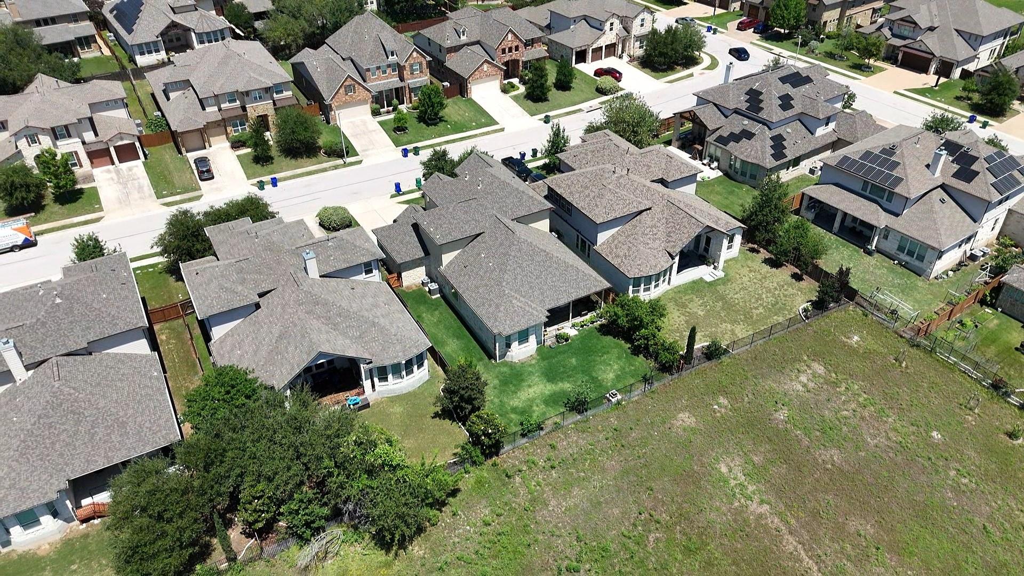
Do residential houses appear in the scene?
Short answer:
Yes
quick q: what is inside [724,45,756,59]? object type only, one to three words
car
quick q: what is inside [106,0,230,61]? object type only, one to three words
house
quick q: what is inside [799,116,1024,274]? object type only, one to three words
house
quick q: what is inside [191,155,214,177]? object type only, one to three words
car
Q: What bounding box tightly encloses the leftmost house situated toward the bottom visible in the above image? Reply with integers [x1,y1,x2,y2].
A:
[0,250,184,550]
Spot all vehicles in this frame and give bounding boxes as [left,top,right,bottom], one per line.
[499,150,532,177]
[735,15,759,30]
[672,13,700,23]
[524,164,549,183]
[191,155,214,177]
[590,63,623,77]
[0,214,45,250]
[724,45,756,59]
[750,19,777,32]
